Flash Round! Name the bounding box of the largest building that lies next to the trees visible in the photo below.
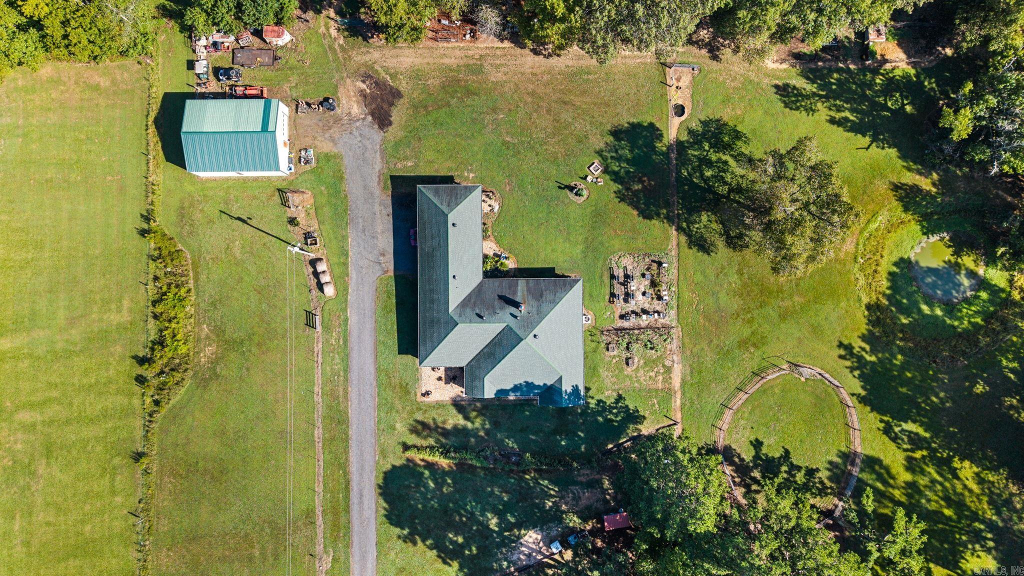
[417,184,585,405]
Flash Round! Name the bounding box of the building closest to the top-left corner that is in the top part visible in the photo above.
[179,97,290,176]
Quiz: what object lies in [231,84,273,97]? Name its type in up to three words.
vehicle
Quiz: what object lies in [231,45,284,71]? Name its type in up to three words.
trailer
